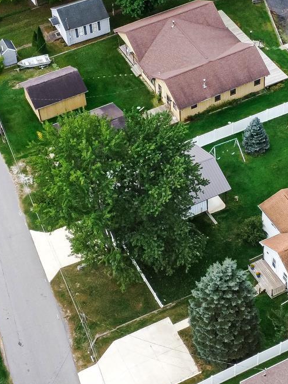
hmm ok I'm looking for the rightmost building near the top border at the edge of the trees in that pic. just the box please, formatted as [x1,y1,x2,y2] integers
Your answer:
[113,2,275,121]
